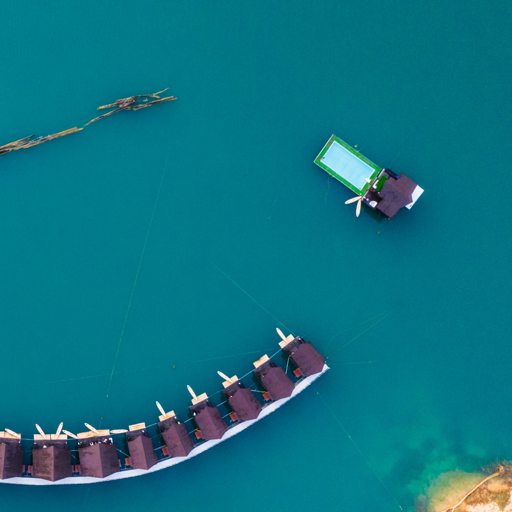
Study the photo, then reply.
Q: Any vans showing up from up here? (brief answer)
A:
No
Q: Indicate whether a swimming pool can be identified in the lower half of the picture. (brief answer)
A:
No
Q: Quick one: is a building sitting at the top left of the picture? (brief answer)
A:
No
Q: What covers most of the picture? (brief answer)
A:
water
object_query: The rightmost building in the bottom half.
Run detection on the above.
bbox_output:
[278,334,323,381]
